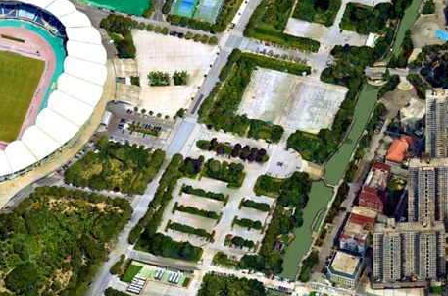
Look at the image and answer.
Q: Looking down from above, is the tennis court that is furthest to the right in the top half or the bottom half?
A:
top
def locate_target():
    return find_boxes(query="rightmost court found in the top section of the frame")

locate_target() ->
[193,0,224,23]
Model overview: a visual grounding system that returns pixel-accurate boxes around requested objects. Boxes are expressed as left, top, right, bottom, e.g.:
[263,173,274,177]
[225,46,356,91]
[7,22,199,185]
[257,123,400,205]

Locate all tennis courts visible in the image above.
[193,0,224,23]
[170,0,199,19]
